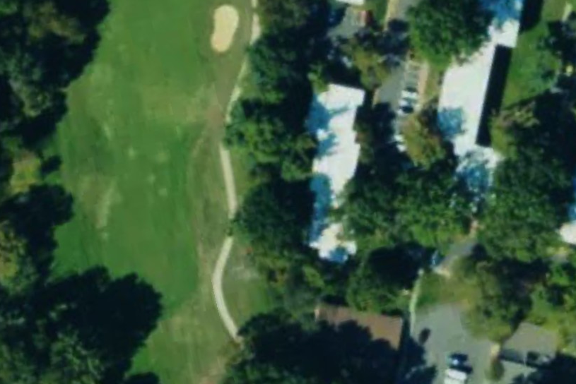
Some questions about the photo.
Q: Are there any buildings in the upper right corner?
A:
Yes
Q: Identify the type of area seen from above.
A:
golf course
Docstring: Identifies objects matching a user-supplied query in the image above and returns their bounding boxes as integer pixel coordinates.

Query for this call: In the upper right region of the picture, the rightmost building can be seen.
[438,0,524,201]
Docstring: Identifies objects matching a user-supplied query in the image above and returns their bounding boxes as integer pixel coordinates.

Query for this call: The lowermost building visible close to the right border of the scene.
[499,323,558,367]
